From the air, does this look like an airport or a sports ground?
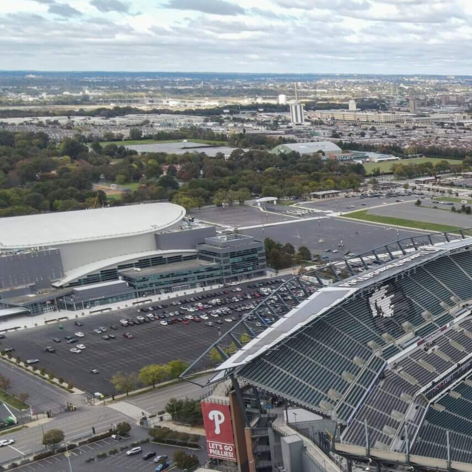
sports ground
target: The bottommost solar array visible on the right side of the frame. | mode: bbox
[227,292,343,363]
